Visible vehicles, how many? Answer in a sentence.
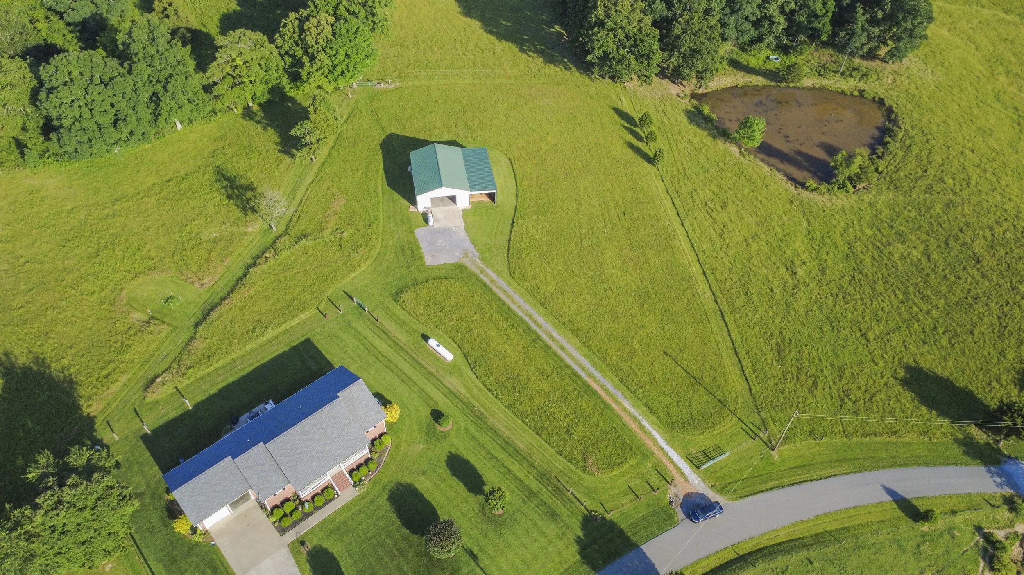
The photo contains exactly 1 vehicle.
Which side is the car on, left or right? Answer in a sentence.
It is on the right.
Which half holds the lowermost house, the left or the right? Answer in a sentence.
The lowermost house is on the left side of the image.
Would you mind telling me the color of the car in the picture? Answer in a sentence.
The car looks blue in the image.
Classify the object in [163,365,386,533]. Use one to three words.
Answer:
house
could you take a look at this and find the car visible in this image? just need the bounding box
[689,498,725,521]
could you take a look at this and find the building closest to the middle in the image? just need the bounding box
[411,141,497,210]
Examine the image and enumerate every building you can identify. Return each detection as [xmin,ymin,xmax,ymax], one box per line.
[411,141,497,210]
[163,365,386,533]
